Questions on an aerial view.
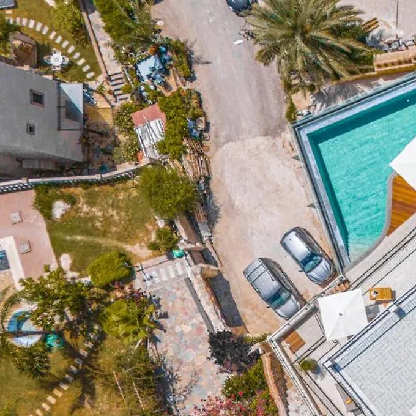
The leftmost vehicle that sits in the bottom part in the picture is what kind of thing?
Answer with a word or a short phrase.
automobile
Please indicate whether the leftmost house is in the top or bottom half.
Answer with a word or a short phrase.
top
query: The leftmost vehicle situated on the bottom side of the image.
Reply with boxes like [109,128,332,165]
[244,251,303,323]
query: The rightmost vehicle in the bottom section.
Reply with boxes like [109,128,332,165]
[281,223,335,288]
